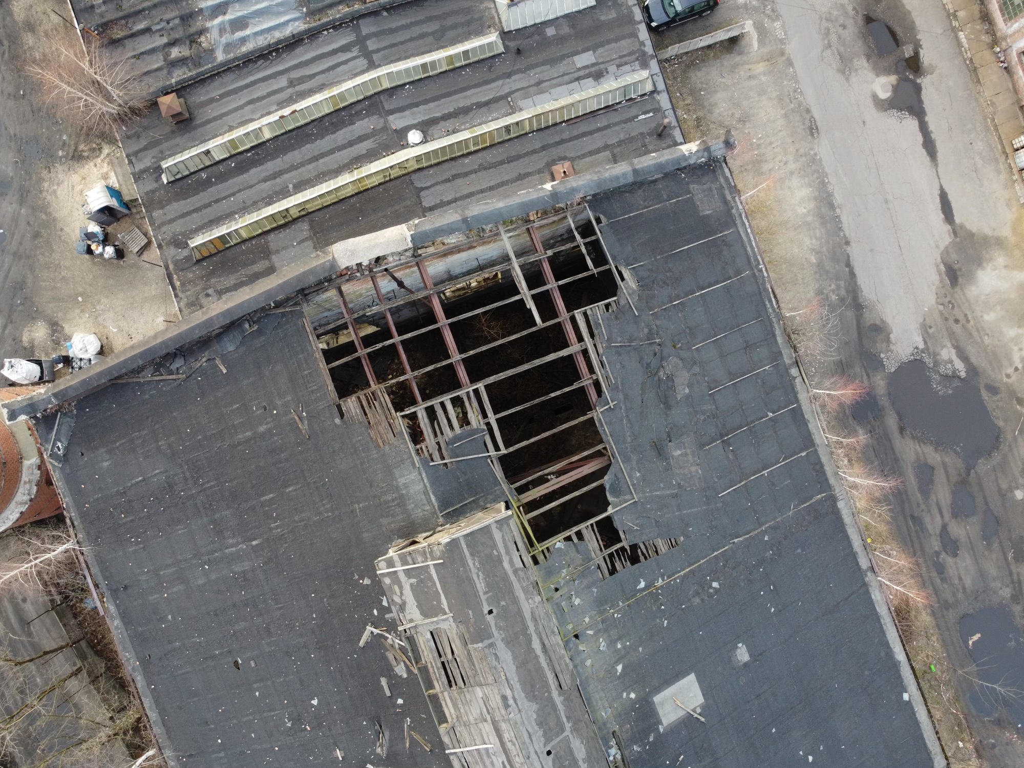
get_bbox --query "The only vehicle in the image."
[645,0,720,35]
